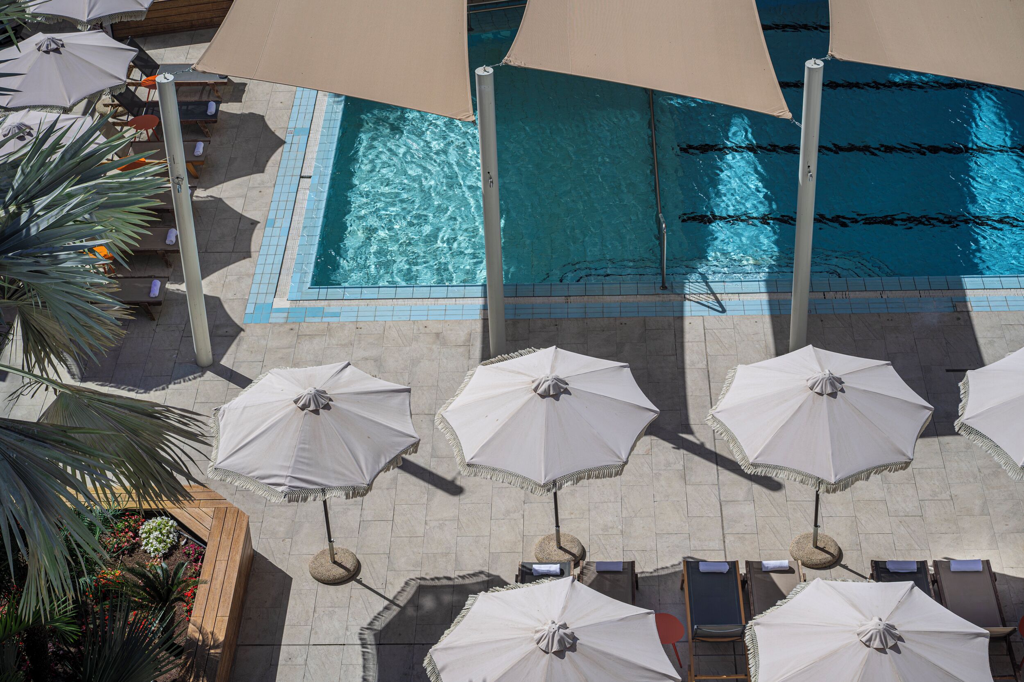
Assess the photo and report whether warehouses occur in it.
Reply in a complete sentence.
No, I can't see a single warehouse in this photo.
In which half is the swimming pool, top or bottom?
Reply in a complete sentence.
The swimming pool is in the top half of the image.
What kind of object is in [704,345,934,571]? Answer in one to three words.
umbrella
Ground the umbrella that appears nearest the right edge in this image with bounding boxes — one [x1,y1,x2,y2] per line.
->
[950,351,1024,481]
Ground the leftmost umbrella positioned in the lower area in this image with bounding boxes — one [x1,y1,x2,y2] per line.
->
[206,362,420,587]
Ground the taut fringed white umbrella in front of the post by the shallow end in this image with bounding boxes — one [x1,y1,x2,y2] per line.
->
[432,346,659,569]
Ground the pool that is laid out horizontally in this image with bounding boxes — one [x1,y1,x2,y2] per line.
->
[243,4,1024,323]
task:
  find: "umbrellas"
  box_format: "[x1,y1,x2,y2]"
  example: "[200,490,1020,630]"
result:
[432,346,659,569]
[21,0,161,35]
[206,362,420,587]
[950,351,1024,481]
[704,345,934,571]
[417,577,682,682]
[741,578,994,682]
[0,28,138,116]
